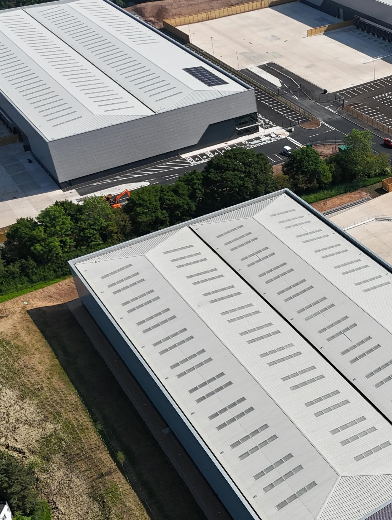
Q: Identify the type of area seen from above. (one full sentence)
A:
This image shows an industrial area.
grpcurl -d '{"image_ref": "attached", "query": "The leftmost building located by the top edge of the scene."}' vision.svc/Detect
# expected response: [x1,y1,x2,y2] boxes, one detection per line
[0,0,264,189]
